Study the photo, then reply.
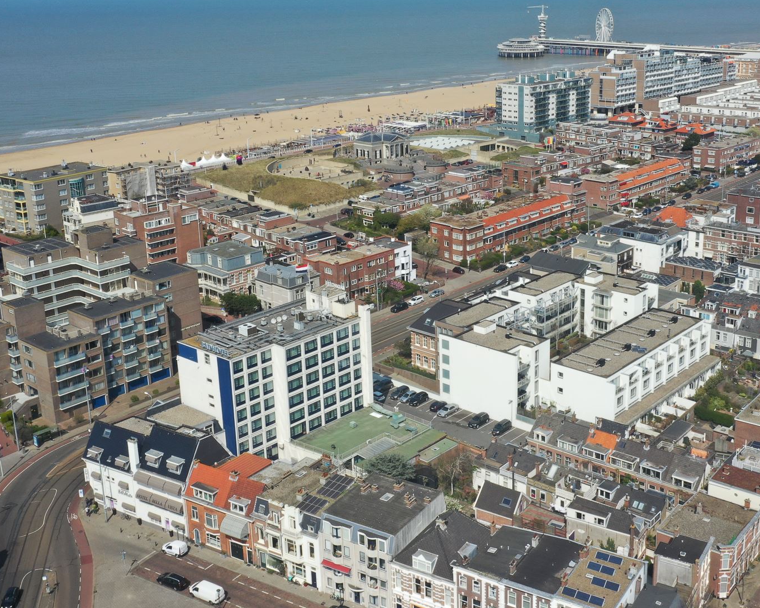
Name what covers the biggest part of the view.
buildings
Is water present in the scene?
Yes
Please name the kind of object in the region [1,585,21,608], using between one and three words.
car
